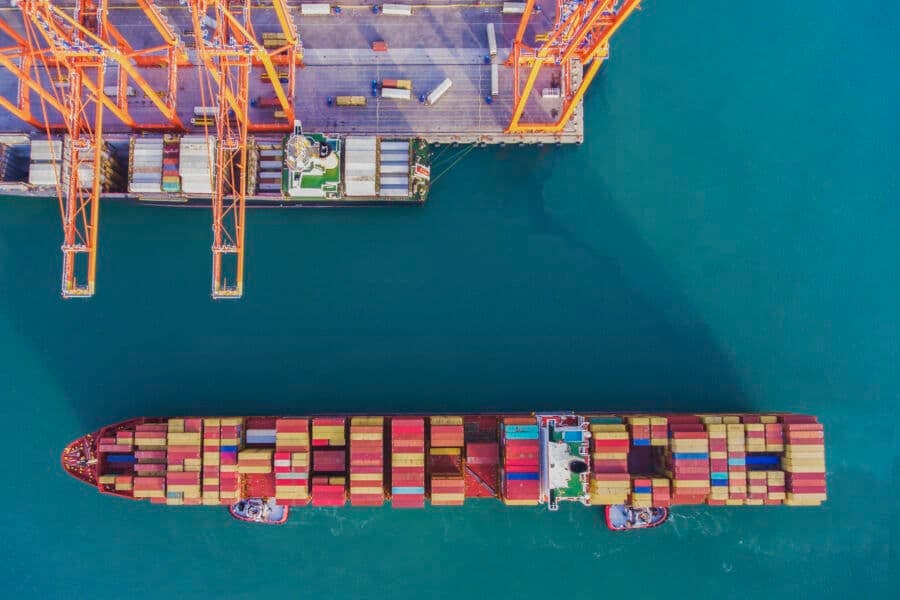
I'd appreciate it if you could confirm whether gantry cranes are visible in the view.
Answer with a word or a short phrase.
Yes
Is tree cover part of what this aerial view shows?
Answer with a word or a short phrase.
No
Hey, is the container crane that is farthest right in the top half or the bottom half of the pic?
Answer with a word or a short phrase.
top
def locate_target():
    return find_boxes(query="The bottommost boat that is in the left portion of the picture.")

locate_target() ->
[228,499,291,524]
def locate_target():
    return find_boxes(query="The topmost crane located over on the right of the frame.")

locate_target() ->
[503,0,639,129]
